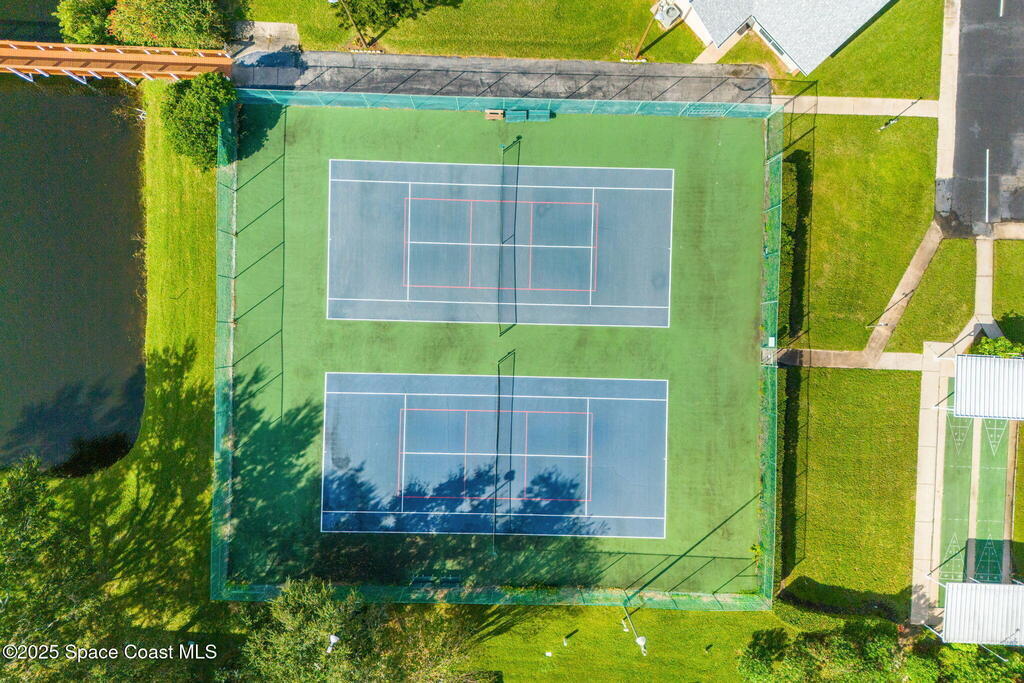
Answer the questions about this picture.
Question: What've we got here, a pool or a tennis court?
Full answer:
It is a tennis court that can be seen here.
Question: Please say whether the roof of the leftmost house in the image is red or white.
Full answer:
The roof of the leftmost house is white.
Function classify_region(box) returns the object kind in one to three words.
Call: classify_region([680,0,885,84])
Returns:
house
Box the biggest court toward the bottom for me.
[322,373,667,537]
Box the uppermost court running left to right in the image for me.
[327,160,673,327]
